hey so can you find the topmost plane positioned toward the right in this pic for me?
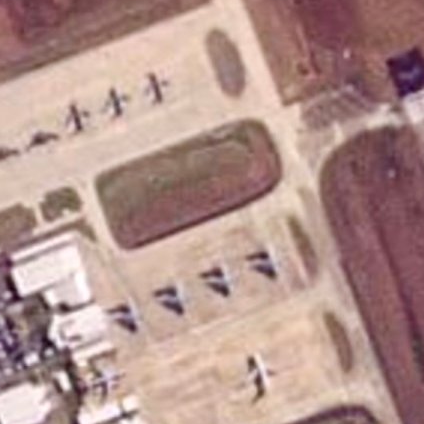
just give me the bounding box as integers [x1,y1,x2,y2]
[248,247,275,274]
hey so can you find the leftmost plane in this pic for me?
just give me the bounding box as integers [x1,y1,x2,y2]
[0,145,23,163]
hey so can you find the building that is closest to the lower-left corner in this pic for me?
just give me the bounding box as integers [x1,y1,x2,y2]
[0,383,53,424]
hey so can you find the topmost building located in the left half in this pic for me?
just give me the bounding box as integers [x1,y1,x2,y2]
[11,233,78,264]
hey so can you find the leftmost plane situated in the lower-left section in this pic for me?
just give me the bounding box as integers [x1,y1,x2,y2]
[87,366,122,393]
